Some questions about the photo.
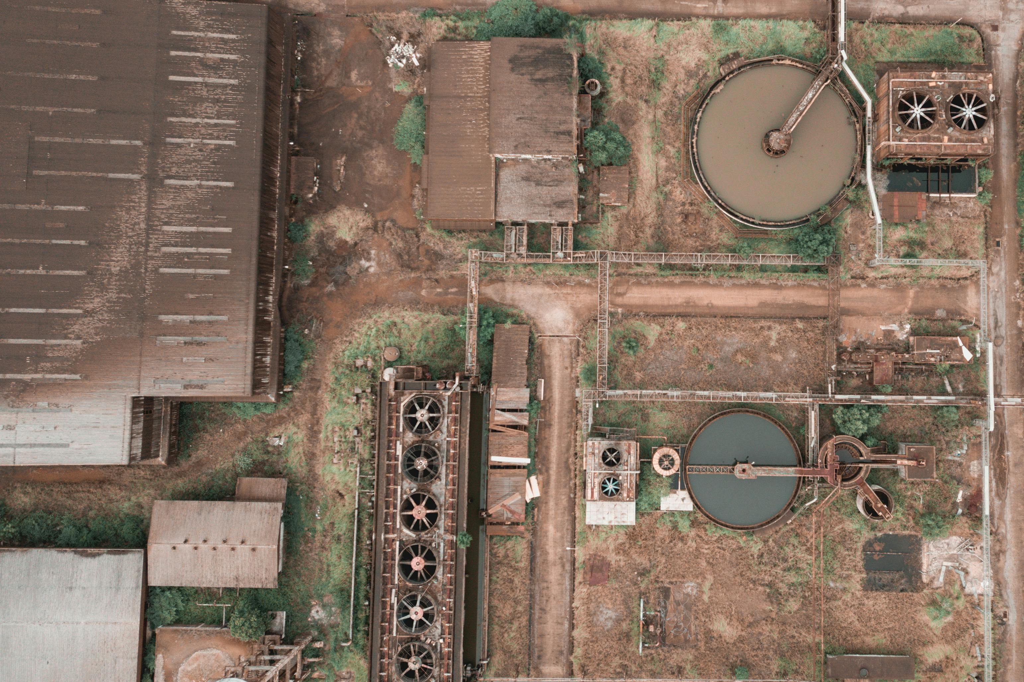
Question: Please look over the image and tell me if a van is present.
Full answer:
No, no van is visible in the scene.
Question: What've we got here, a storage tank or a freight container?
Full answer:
Visible in the photo is a storage tank.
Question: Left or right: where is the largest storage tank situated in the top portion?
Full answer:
The largest storage tank situated in the top portion appears in the right half of the scene.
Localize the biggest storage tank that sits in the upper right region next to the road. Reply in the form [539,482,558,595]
[683,49,863,240]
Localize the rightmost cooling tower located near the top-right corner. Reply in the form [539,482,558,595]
[873,62,999,164]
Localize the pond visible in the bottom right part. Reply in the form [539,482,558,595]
[863,534,922,592]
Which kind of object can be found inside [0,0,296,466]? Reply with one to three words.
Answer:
warehouse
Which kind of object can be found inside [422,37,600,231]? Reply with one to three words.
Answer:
building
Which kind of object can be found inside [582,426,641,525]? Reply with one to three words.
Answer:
cooling tower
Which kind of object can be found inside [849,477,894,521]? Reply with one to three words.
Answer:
storage tank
